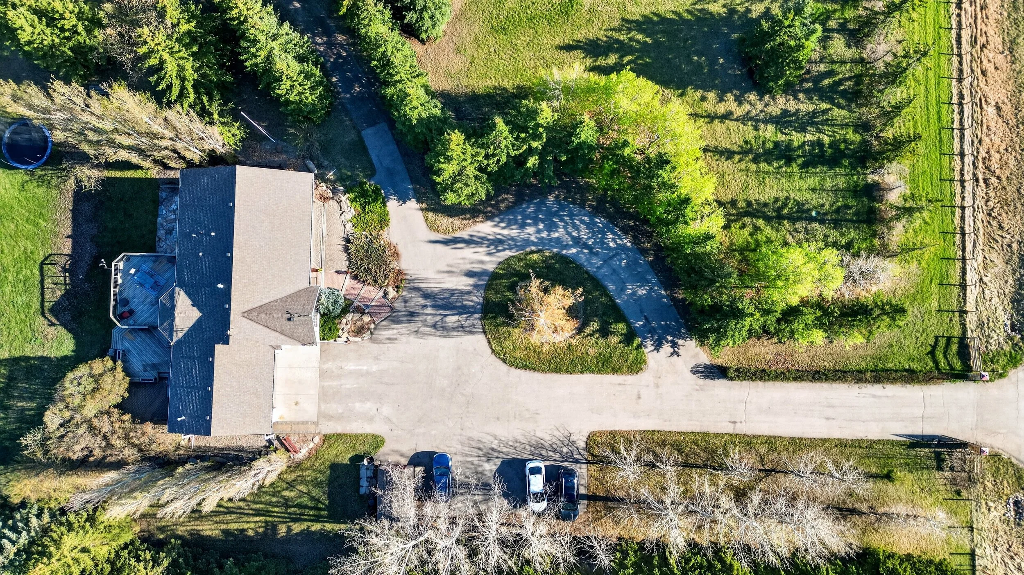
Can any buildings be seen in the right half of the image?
No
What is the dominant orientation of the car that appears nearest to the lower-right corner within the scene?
vertically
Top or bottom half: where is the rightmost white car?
bottom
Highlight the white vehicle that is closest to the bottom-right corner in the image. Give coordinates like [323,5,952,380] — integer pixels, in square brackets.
[525,460,548,512]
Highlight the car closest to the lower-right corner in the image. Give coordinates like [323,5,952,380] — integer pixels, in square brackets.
[559,467,583,520]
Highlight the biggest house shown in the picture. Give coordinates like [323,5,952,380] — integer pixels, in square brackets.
[157,165,325,437]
